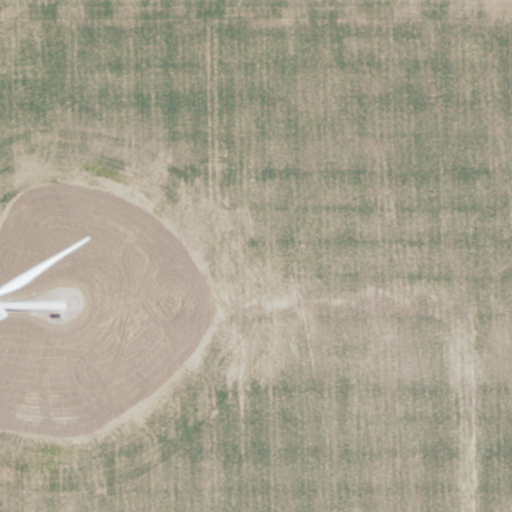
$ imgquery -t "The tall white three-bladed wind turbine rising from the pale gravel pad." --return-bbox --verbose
[0,236,90,320]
